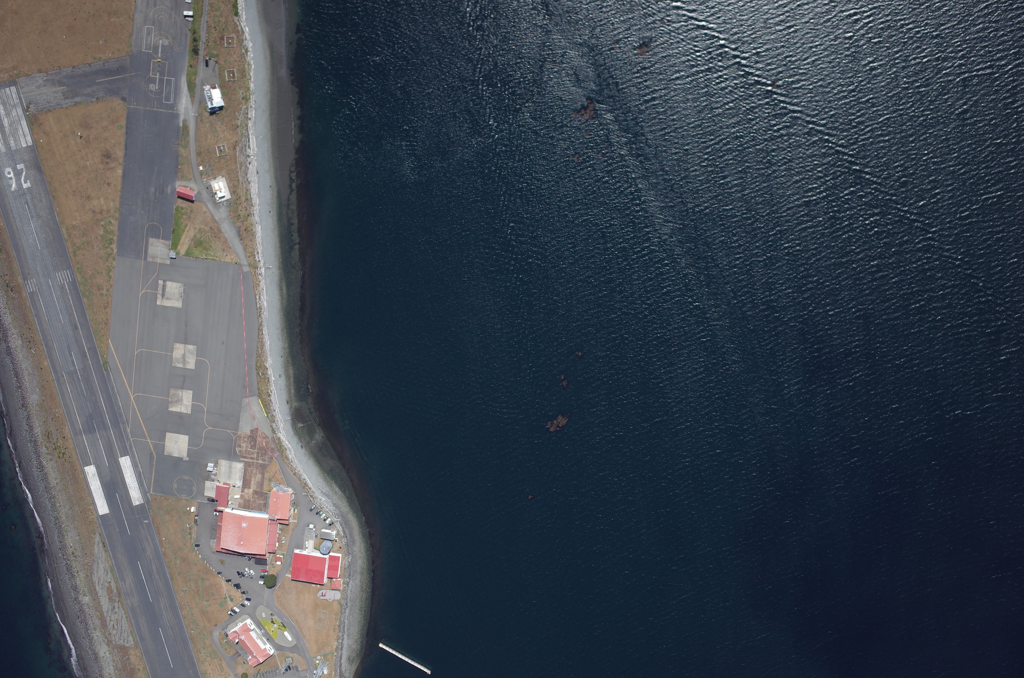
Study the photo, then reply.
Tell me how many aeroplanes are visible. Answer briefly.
0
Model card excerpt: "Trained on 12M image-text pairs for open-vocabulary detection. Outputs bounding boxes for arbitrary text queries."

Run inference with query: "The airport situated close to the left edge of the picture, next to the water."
[0,0,278,678]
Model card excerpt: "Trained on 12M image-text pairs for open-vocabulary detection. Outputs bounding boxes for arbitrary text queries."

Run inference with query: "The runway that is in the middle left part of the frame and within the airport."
[0,79,201,678]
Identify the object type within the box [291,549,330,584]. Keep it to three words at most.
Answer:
building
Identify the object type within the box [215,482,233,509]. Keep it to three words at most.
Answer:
building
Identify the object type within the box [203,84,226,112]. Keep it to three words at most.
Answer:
house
